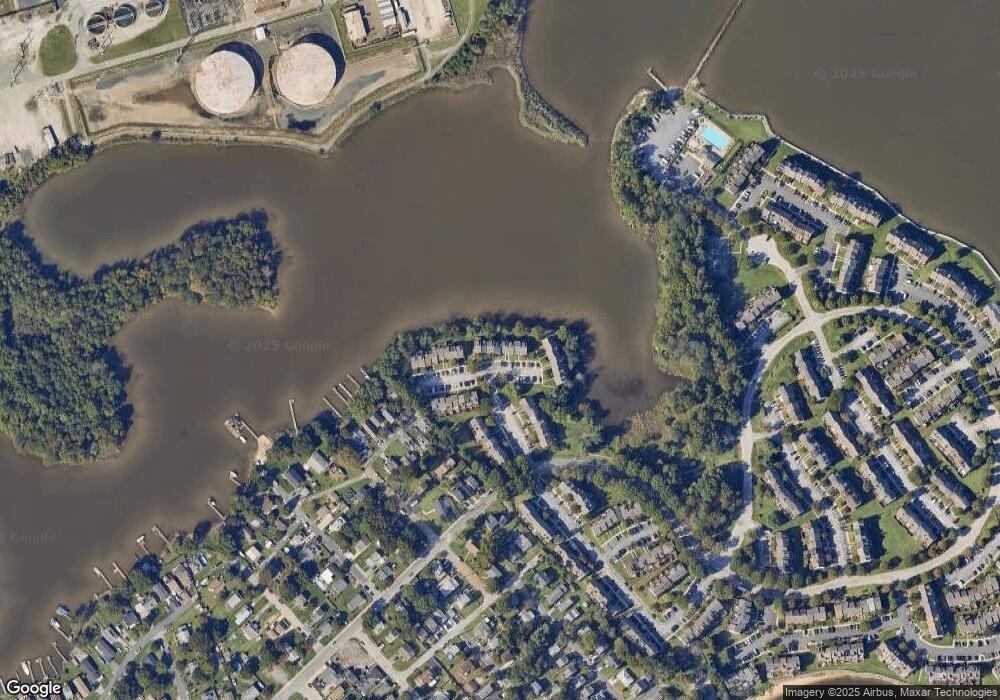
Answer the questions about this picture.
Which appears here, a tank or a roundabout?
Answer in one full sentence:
Visible in the photo is a tank.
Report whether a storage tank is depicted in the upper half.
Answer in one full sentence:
Yes, looking in the upper half, one can make out a storage tank.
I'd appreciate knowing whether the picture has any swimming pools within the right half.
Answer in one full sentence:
Yes, there is a swimming pool within the right half.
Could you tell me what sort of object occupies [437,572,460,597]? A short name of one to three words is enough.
house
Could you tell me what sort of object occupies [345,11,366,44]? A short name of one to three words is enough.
building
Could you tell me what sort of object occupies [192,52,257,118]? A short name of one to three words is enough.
storage tank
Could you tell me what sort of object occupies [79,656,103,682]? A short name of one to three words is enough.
house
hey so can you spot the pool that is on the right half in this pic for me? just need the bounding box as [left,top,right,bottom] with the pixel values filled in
[696,119,735,156]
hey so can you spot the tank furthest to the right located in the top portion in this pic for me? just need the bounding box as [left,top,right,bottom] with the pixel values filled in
[273,43,339,110]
